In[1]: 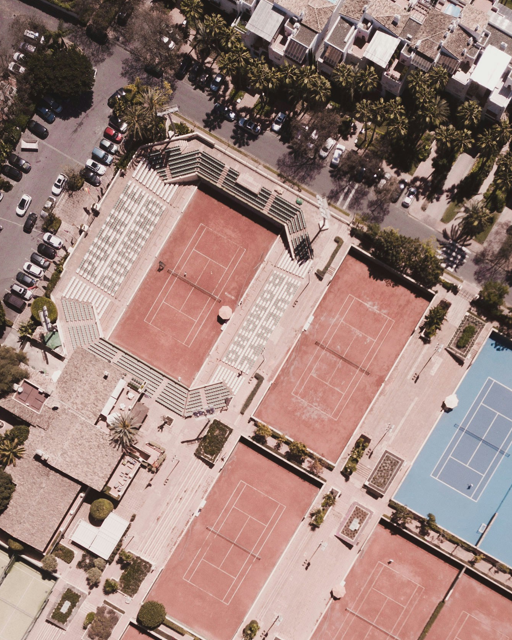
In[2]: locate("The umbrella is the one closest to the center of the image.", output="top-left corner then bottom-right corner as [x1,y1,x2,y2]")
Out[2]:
[219,306,232,319]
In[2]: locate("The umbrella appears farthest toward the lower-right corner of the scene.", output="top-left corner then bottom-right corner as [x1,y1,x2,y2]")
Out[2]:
[332,585,345,598]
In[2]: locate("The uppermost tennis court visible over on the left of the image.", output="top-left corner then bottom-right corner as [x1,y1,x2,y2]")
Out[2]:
[108,181,281,389]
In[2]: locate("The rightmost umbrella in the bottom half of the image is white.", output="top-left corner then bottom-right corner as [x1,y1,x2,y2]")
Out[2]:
[445,394,458,409]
